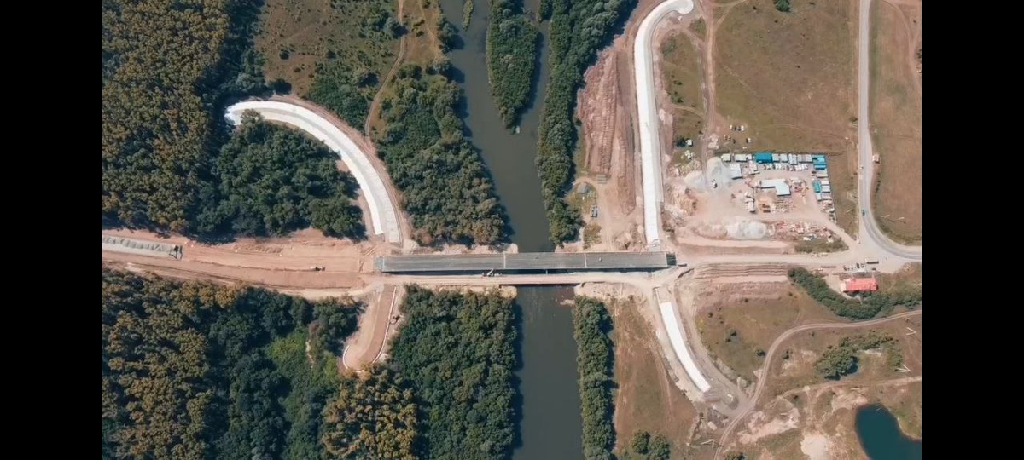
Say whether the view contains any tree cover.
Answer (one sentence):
Yes, there is tree cover in the image.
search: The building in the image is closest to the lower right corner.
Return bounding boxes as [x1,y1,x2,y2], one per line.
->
[841,278,881,292]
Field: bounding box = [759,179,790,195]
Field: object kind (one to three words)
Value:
building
